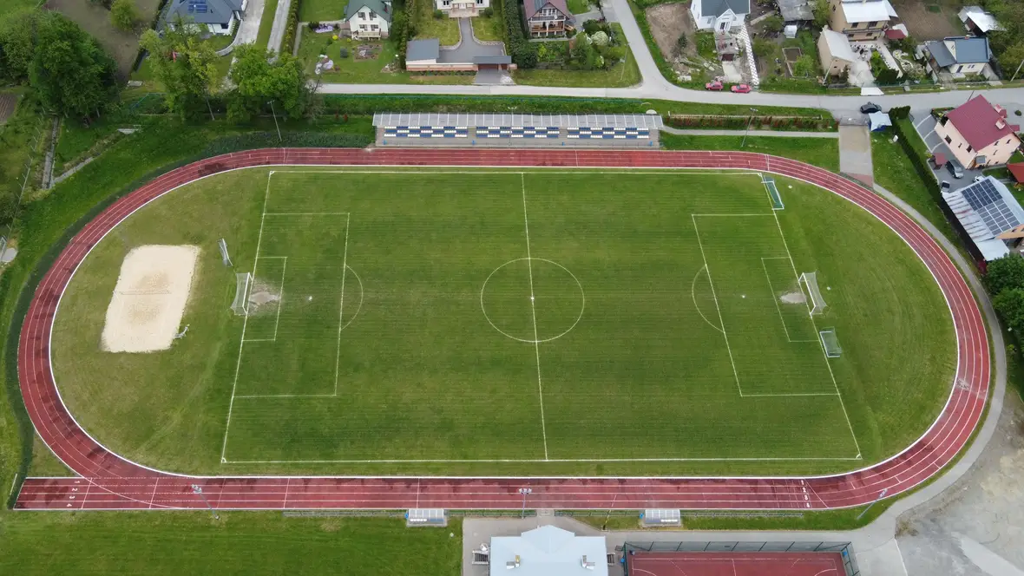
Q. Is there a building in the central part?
No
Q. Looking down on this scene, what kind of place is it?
sports ground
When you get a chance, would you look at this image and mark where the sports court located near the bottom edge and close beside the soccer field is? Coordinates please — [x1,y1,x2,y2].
[628,552,847,576]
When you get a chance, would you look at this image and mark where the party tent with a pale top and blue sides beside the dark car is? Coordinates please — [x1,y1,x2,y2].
[869,113,892,133]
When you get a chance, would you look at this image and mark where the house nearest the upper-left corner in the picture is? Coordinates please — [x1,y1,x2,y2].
[166,0,236,36]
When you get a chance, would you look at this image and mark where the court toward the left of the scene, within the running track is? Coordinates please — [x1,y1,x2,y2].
[101,245,200,352]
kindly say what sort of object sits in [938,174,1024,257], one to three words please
house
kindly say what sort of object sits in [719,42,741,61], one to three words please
building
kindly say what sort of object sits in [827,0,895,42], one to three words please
house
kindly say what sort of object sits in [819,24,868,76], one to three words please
barn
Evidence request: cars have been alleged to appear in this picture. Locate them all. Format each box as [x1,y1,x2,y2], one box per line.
[705,81,725,91]
[970,172,984,181]
[730,84,753,93]
[860,104,884,114]
[947,158,966,177]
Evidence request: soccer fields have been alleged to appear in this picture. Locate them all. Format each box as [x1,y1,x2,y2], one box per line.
[214,171,863,469]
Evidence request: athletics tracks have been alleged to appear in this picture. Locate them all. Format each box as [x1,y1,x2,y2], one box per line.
[14,147,990,511]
